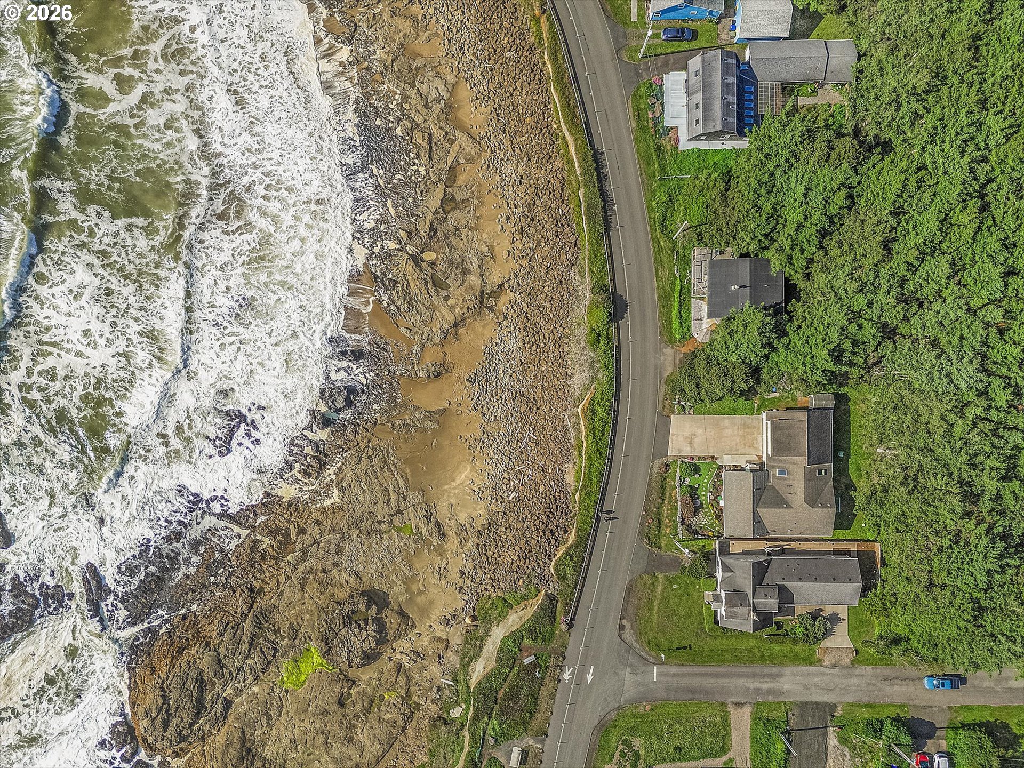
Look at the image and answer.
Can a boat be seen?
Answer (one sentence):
No, no boat is visible in the view.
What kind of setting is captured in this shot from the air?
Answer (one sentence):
The area seen from above is a beach.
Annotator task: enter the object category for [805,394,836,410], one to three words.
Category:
greenhouse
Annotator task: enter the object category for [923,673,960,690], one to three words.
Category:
vehicle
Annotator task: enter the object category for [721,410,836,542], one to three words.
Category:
house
